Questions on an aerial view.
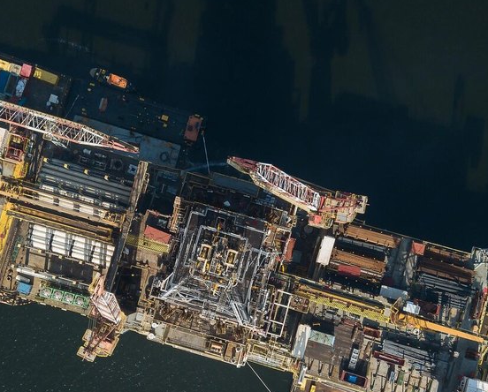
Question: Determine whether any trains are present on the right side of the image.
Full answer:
No, there is no train on the right side of the image.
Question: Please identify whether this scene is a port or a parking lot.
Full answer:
It's a port.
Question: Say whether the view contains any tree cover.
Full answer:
No, there is no tree cover in the image.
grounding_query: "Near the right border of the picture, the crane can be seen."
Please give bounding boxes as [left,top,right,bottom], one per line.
[388,309,488,346]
